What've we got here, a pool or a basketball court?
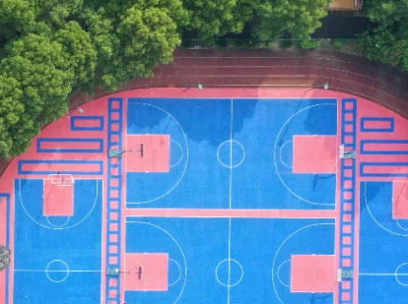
basketball court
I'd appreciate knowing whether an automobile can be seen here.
No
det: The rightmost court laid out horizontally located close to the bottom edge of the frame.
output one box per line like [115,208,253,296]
[124,217,335,304]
